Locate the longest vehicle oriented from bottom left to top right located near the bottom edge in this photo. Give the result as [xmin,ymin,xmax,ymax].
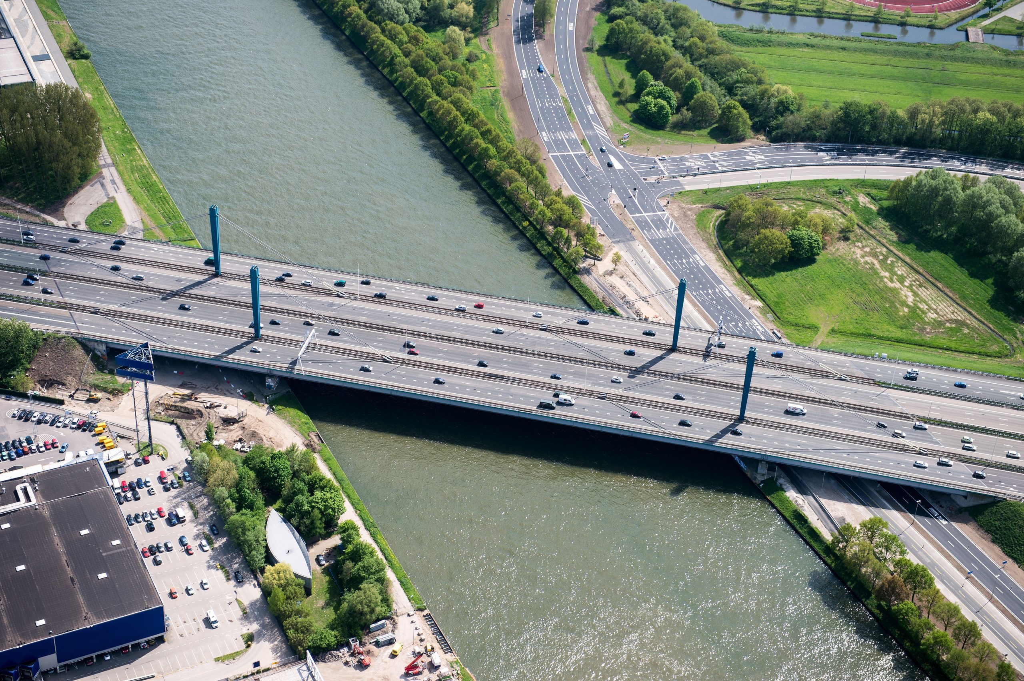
[405,652,436,679]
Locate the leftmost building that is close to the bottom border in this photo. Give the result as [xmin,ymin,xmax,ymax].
[0,459,174,681]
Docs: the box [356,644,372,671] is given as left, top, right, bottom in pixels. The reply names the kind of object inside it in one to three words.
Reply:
work vehicle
